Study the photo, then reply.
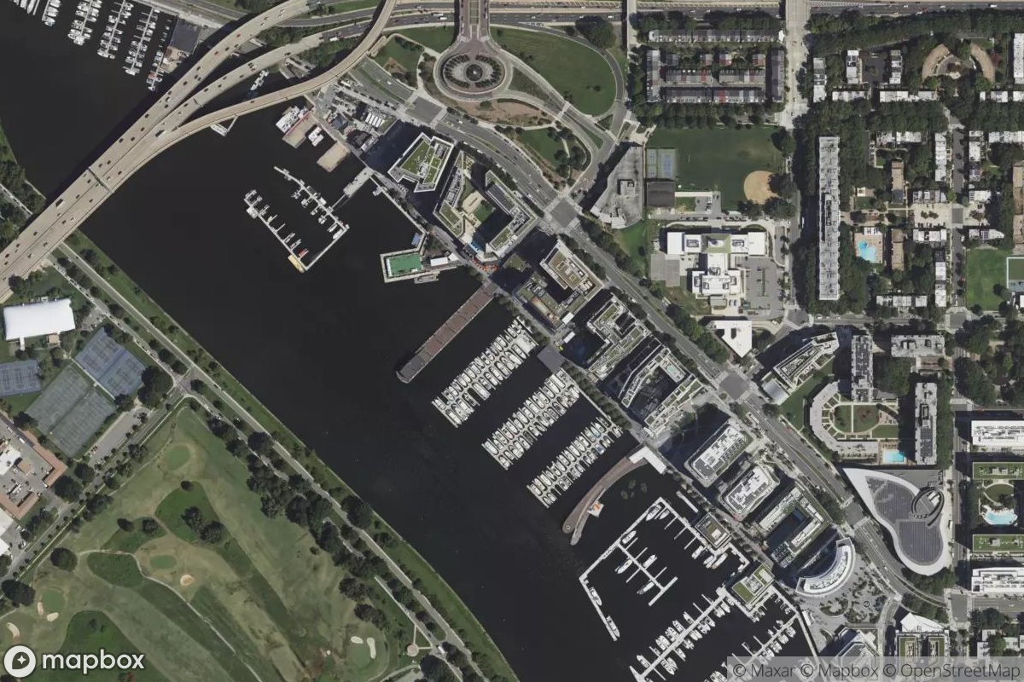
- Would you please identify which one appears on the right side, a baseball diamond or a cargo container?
baseball diamond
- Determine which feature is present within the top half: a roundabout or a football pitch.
roundabout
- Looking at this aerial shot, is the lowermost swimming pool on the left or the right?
right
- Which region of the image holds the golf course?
bottom left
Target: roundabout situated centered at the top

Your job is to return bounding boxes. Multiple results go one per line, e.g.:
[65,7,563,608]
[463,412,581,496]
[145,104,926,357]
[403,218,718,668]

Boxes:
[433,39,509,102]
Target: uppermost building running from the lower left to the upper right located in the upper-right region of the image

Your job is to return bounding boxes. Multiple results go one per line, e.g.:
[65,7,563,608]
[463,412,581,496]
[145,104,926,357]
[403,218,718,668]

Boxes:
[921,43,952,85]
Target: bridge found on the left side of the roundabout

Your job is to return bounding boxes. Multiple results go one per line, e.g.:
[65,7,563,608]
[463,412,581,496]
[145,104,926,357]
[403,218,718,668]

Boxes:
[0,0,396,303]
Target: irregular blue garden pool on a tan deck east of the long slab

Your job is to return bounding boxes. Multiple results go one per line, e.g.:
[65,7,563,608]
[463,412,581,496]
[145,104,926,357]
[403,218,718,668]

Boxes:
[854,233,883,263]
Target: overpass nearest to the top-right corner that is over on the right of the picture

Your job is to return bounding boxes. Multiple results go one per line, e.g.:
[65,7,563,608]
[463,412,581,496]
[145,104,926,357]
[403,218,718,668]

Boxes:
[786,0,810,24]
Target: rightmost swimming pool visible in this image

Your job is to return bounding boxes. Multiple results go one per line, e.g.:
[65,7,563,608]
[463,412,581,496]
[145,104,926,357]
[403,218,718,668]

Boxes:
[981,505,1019,525]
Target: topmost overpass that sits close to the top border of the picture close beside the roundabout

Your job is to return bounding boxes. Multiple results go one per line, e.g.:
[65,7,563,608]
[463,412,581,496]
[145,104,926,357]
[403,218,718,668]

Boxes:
[458,0,491,39]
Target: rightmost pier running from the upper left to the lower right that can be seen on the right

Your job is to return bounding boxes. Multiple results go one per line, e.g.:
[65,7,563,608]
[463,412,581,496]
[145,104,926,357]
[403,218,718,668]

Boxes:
[665,492,749,568]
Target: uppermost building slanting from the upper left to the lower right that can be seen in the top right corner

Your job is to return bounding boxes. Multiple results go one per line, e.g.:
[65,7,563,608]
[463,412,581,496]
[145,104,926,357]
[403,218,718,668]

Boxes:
[968,42,995,84]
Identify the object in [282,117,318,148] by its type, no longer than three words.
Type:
pier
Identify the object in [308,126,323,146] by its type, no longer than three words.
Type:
ship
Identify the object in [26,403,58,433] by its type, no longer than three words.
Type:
tennis court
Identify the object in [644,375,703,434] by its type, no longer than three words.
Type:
building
